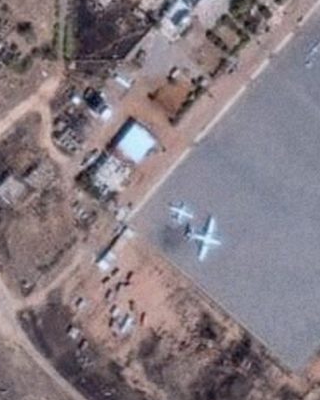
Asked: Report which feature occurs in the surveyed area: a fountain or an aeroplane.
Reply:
aeroplane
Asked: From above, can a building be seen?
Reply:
Yes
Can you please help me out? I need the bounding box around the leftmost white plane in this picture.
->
[170,202,192,223]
